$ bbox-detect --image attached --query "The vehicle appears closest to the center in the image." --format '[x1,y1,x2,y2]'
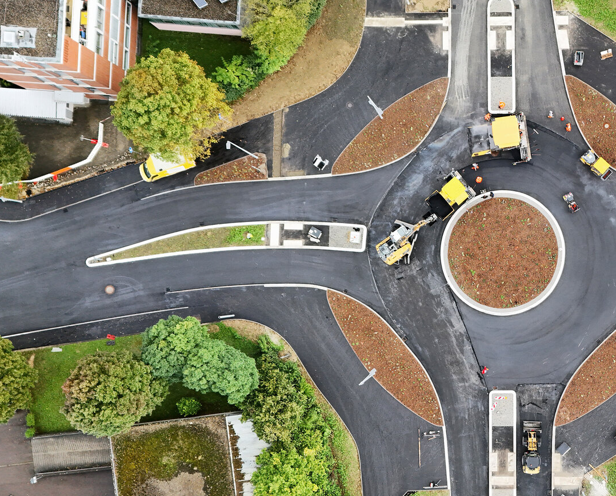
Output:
[371,211,447,276]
